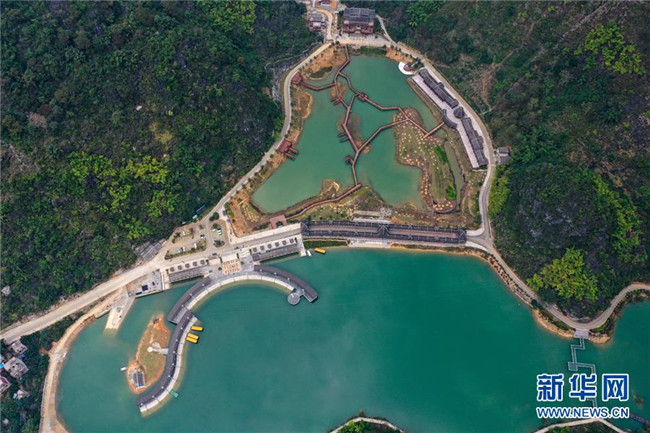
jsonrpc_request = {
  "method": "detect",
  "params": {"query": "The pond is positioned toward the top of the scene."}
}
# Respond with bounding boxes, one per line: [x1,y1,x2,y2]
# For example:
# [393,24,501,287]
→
[251,52,446,214]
